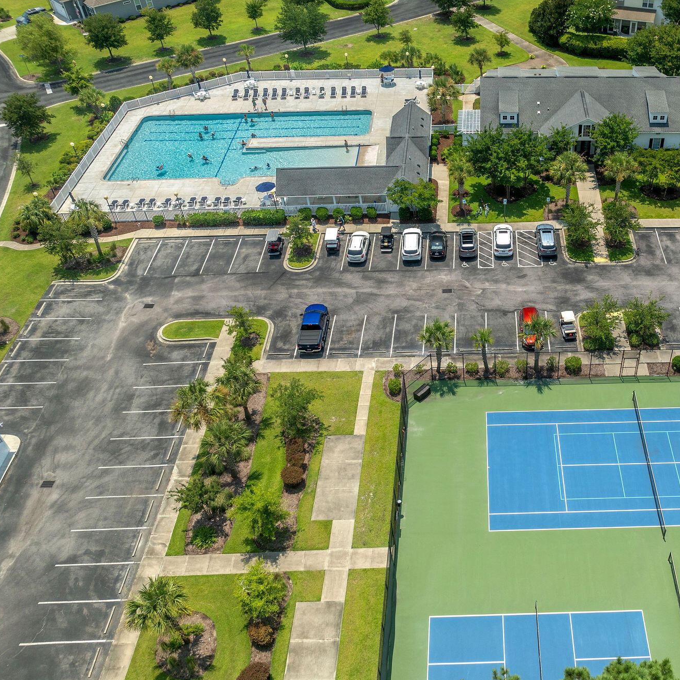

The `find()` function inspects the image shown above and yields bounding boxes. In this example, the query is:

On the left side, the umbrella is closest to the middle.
[249,178,276,194]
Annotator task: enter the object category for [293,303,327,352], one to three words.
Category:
truck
